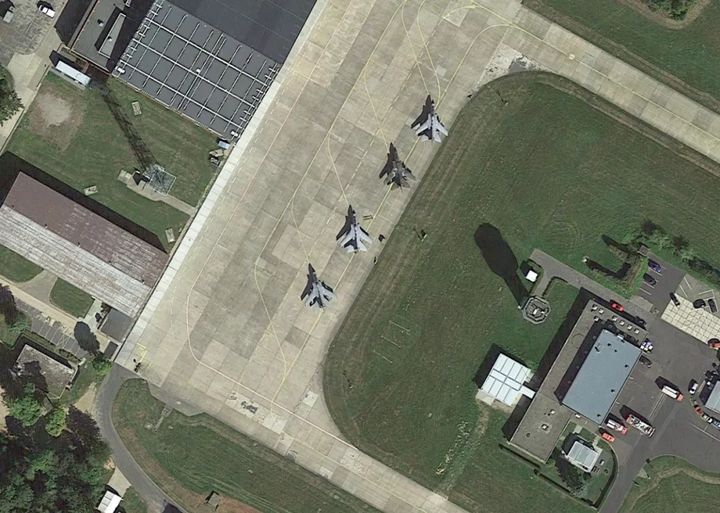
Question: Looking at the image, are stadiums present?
No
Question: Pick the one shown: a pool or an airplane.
airplane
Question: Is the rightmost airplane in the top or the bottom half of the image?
top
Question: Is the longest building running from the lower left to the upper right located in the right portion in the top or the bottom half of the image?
bottom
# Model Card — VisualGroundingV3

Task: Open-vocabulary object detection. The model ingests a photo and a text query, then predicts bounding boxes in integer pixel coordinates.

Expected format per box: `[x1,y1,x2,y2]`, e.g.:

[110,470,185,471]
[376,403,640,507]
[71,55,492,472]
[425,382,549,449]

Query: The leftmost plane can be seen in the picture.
[304,268,335,312]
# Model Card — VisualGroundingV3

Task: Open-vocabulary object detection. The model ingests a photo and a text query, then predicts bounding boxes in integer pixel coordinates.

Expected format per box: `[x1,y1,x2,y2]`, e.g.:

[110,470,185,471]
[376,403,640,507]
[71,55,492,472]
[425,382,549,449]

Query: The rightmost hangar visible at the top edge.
[112,0,317,145]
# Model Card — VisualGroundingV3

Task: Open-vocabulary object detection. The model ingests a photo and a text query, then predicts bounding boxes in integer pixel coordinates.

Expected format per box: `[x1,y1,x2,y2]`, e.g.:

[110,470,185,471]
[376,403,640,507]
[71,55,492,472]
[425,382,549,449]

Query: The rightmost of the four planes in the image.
[418,100,450,143]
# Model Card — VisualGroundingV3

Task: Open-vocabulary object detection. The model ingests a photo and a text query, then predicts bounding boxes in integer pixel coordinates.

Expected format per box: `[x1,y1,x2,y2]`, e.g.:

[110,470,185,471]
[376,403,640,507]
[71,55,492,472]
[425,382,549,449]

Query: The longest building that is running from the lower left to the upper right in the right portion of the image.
[507,301,650,462]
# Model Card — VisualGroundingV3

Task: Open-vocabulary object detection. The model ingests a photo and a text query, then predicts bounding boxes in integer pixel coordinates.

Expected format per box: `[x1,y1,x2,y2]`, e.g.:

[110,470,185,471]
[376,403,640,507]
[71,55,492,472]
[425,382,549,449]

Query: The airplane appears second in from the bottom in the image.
[340,210,371,254]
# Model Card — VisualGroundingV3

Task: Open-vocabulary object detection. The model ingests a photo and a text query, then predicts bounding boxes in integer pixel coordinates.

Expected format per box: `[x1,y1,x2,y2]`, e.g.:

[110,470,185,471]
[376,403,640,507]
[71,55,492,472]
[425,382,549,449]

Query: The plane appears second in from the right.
[382,148,413,192]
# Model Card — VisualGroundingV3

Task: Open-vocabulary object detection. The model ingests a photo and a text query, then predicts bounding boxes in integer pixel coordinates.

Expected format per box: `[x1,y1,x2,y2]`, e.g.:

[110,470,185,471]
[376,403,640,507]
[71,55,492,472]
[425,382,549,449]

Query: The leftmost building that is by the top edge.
[72,0,150,73]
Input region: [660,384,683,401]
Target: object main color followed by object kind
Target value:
white vehicle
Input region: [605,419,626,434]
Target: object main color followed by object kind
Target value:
white vehicle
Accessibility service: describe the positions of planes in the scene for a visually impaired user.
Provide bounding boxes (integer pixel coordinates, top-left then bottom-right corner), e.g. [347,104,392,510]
[340,210,371,254]
[304,268,335,312]
[418,100,450,143]
[382,148,413,192]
